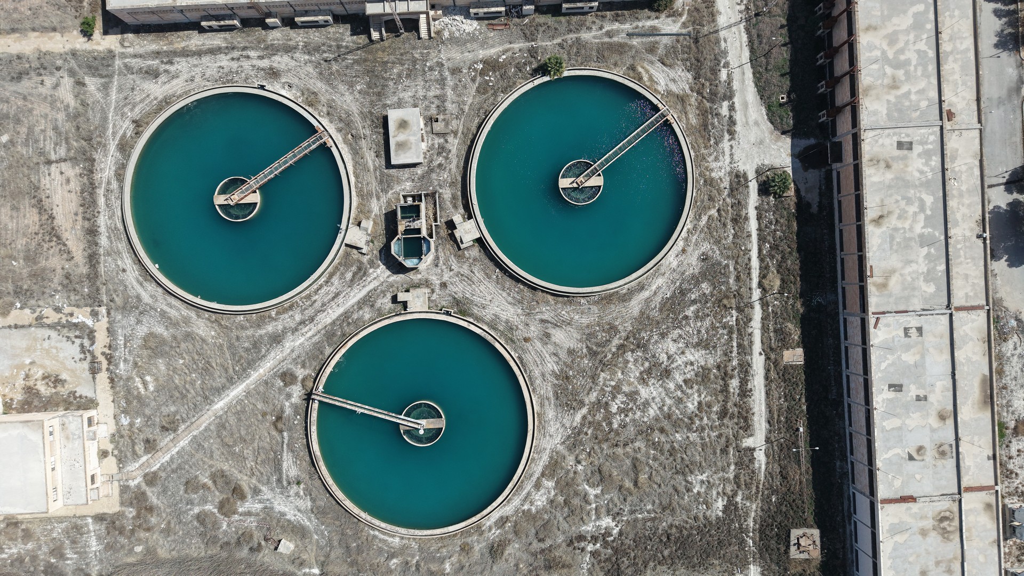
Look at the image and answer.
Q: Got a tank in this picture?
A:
Yes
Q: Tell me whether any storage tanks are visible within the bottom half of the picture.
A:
Yes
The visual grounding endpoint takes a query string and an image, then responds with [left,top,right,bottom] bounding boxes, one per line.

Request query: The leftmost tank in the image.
[121,77,357,316]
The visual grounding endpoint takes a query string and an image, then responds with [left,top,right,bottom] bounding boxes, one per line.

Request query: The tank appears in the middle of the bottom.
[307,302,538,539]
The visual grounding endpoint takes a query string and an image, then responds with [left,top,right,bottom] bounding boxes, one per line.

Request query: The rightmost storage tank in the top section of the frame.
[465,66,697,298]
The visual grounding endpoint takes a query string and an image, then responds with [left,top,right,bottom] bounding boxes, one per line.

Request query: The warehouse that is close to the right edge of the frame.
[826,0,1004,576]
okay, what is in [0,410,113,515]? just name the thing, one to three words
building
